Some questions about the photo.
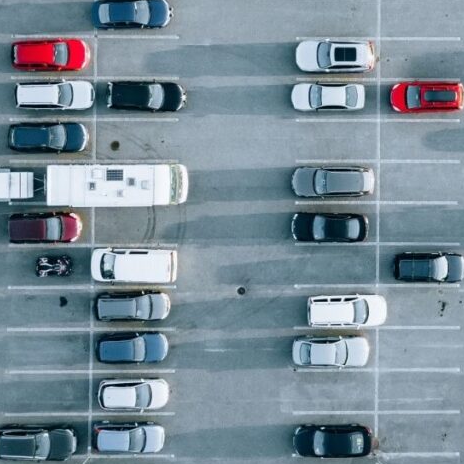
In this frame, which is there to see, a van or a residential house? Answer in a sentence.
The one in the frame is a van.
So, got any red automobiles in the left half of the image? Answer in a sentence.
Yes, looking in the left half of the image, one can make out a red automobile.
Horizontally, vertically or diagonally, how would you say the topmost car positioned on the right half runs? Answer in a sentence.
The topmost car positioned on the right half runs horizontally in the image.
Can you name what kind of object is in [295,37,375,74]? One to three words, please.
car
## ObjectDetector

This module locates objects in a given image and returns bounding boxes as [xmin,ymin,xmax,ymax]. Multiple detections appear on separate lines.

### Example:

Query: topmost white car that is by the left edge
[14,77,96,112]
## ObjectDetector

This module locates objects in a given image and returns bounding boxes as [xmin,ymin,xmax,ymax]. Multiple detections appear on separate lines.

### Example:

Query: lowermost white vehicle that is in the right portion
[291,334,369,371]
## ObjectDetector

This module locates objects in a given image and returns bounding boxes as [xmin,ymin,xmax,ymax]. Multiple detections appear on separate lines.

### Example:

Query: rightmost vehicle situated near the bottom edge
[293,421,373,462]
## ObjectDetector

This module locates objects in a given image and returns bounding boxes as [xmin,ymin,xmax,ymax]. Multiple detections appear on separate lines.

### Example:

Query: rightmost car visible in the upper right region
[390,78,464,115]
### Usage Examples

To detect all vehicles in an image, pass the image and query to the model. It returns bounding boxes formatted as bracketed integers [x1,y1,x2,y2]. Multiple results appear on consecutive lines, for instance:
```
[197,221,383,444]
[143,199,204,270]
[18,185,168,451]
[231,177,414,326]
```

[295,37,375,74]
[292,163,375,200]
[0,423,78,464]
[105,78,186,114]
[293,421,373,462]
[93,420,165,458]
[292,210,369,246]
[14,77,96,112]
[6,119,89,155]
[307,293,388,332]
[47,162,191,208]
[95,331,169,367]
[91,247,177,286]
[98,377,170,415]
[291,80,366,114]
[94,290,171,326]
[11,35,91,72]
[291,334,369,371]
[390,78,464,115]
[6,210,83,247]
[38,254,73,275]
[395,250,464,286]
[91,0,173,31]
